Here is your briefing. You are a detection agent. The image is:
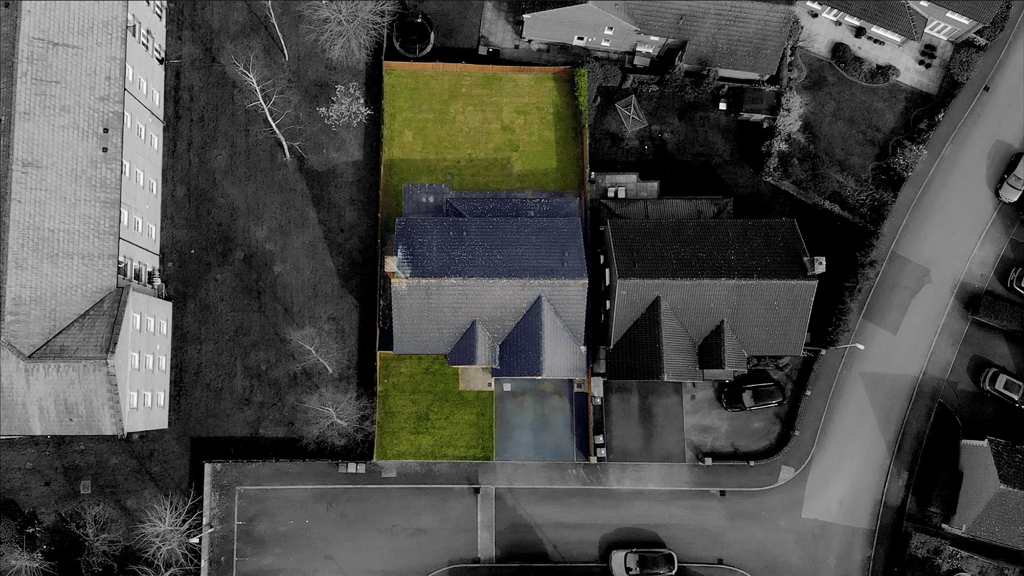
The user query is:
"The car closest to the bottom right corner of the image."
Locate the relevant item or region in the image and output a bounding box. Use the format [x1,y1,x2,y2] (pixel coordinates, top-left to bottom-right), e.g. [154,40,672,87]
[976,364,1024,411]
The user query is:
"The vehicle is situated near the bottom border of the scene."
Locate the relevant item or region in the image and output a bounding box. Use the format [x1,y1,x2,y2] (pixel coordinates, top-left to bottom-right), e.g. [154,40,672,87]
[609,546,677,576]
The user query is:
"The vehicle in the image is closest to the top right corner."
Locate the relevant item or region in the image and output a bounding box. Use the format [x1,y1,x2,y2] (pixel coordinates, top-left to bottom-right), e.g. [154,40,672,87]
[999,148,1024,202]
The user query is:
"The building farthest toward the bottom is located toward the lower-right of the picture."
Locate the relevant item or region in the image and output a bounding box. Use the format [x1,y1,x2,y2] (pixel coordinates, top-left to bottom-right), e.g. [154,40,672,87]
[935,436,1024,541]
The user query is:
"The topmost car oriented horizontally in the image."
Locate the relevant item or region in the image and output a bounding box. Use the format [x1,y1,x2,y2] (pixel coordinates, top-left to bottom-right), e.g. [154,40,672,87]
[720,379,786,413]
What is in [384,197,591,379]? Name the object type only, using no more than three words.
house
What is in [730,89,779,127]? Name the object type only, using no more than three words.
shed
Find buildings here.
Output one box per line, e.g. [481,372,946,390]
[519,0,795,80]
[730,89,779,127]
[0,0,172,437]
[598,198,827,381]
[798,0,1009,49]
[384,197,591,379]
[935,436,1024,541]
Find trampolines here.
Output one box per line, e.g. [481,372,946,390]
[392,12,431,60]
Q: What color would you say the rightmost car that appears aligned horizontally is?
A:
black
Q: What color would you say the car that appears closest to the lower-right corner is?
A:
black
